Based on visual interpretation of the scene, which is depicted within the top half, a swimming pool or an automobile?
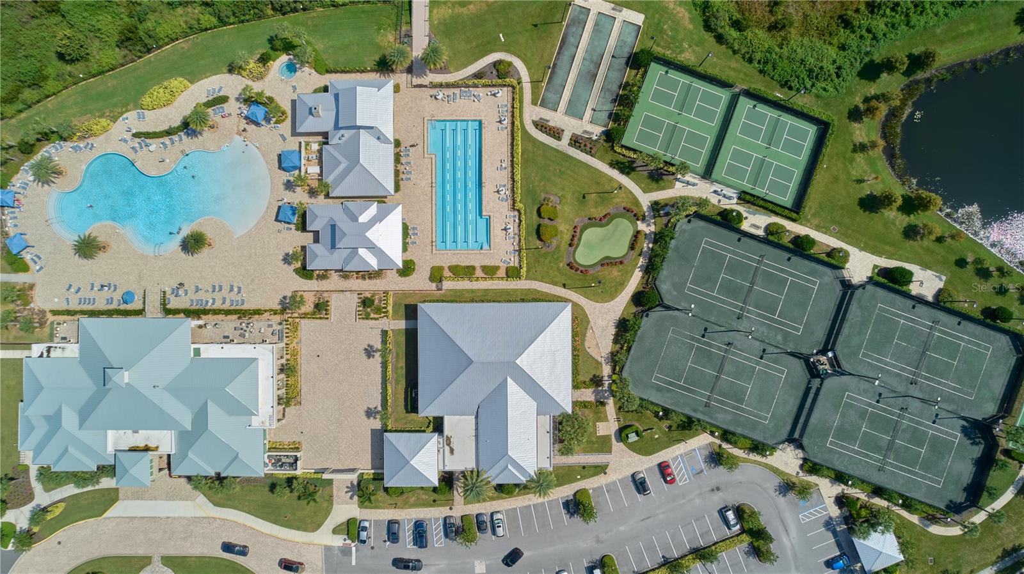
swimming pool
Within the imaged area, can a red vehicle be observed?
Yes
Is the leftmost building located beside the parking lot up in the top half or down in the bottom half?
bottom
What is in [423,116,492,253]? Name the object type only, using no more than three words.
swimming pool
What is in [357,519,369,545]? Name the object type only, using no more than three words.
vehicle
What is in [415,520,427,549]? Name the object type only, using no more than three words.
vehicle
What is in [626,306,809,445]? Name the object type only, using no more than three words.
tennis court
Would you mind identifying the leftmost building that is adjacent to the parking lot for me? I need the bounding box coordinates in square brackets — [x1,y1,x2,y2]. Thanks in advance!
[18,318,283,479]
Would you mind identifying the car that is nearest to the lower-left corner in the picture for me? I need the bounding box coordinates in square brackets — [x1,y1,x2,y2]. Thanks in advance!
[222,541,249,556]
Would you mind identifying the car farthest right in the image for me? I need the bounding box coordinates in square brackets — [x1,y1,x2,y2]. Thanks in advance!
[825,553,849,571]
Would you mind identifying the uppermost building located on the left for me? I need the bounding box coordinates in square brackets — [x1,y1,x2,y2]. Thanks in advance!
[297,80,394,196]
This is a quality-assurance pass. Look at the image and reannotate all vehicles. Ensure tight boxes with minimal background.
[415,520,427,549]
[633,470,650,496]
[222,541,249,556]
[357,519,369,545]
[501,546,525,567]
[719,506,738,531]
[445,514,457,540]
[491,511,504,538]
[825,553,849,571]
[279,558,306,572]
[388,518,399,544]
[477,512,488,534]
[393,557,423,571]
[659,460,676,485]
